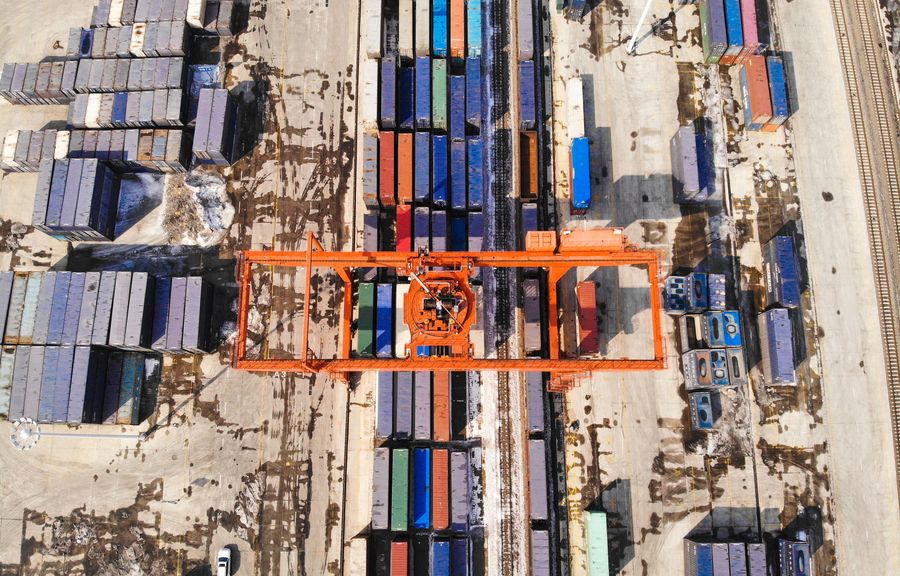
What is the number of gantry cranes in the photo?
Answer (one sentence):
In total, 1 gantry crane can be seen.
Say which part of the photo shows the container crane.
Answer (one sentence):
Look in the center portion of the view to spot the container crane.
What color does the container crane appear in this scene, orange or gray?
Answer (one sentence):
In this view, the container crane is orange.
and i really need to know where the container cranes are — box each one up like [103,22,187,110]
[224,229,672,387]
